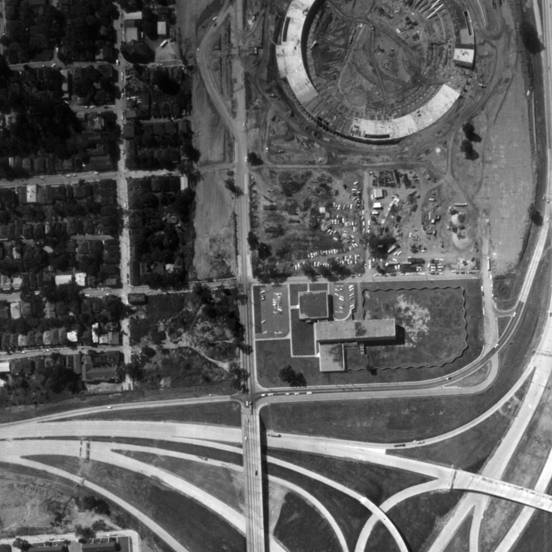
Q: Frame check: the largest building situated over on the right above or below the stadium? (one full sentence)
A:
As seen from overhead, the largest building situated over on the right falls below the stadium in the picture.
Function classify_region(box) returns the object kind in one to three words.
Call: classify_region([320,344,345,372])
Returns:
building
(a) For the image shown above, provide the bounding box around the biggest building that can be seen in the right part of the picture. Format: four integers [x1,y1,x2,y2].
[317,319,395,342]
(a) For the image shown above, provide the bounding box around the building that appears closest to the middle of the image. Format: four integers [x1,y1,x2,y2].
[299,291,330,321]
